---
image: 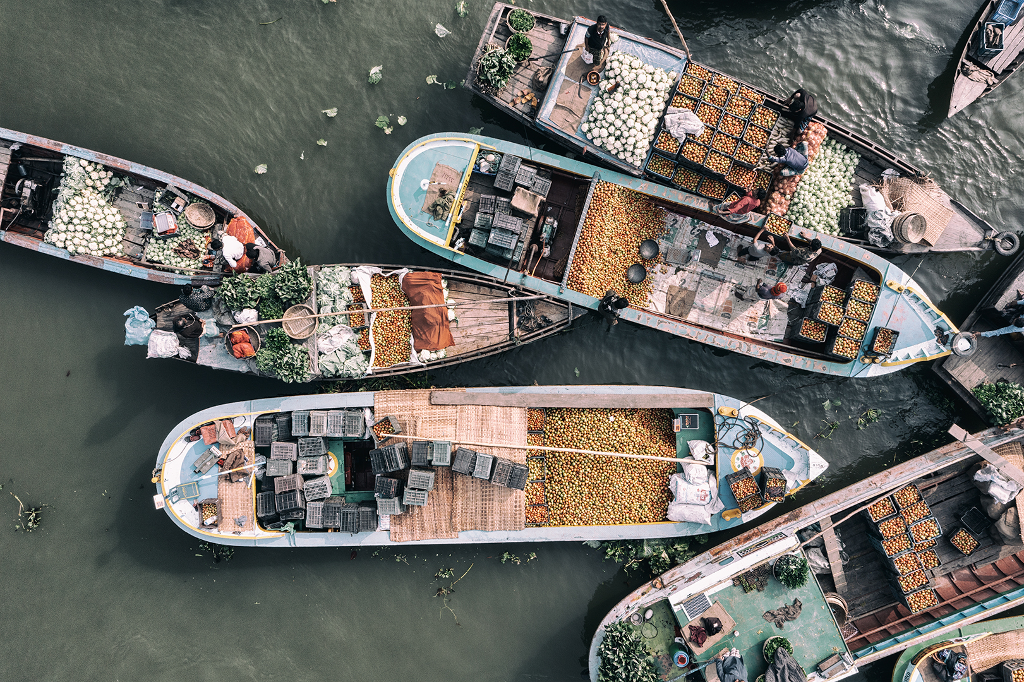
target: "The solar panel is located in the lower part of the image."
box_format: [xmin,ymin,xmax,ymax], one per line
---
[682,591,714,621]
